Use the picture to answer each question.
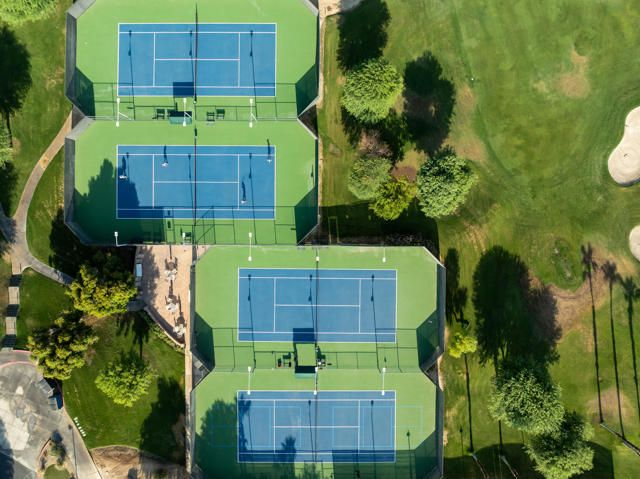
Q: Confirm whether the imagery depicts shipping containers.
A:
No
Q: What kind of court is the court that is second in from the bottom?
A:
tennis court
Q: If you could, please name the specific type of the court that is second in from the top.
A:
tennis court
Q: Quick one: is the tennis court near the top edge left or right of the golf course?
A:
to the left of it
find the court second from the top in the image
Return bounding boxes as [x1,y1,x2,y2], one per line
[75,120,317,243]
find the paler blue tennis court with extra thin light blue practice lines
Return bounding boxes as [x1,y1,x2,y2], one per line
[195,366,438,479]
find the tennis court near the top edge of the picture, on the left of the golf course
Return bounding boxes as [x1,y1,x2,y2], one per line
[76,0,318,120]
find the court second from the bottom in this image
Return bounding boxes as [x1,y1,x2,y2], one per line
[196,245,438,366]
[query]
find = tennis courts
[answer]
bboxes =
[76,0,318,120]
[195,366,438,479]
[196,245,438,366]
[75,120,317,243]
